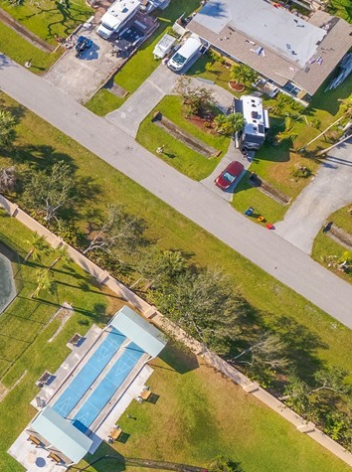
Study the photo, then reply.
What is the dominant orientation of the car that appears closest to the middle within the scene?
on a diagonal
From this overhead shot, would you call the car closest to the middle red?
Yes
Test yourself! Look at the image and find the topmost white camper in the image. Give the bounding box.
[98,0,142,39]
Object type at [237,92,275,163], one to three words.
trailer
